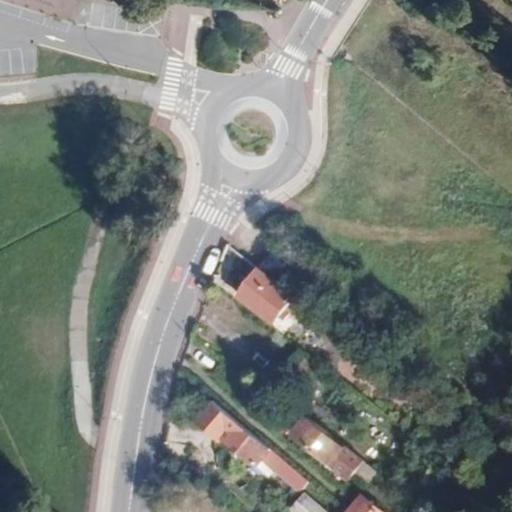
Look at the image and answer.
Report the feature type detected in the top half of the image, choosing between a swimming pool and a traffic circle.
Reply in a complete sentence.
What appears in the top half of the image is a traffic circle.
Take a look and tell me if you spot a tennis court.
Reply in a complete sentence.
No, the photo shows no tennis court.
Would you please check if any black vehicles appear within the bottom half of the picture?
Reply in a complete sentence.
No, there's no black vehicle to be seen within the bottom half of the picture.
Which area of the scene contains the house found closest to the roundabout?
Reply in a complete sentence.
The house found closest to the roundabout appears toward the center of the photo.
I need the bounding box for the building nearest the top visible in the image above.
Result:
[235,267,288,326]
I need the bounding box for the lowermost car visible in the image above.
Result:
[194,350,216,370]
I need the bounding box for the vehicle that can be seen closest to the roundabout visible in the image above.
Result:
[202,249,220,274]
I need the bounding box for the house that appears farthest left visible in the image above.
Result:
[195,402,246,444]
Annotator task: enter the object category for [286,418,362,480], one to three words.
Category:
house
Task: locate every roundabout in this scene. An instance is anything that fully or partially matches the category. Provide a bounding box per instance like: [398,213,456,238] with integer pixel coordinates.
[202,80,306,184]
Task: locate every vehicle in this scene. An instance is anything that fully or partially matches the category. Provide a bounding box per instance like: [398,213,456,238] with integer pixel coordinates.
[202,249,220,274]
[194,350,216,370]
